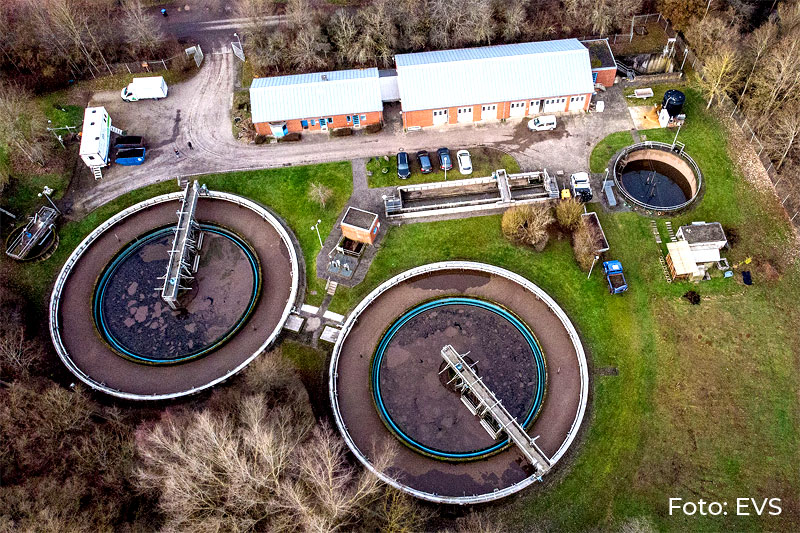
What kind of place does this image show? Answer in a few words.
industrial area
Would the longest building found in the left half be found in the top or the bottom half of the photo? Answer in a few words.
top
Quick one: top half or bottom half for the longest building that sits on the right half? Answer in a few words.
top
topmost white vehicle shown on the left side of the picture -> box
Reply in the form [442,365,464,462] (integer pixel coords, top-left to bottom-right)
[121,77,168,103]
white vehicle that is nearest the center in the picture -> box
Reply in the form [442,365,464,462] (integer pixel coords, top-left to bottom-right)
[457,150,473,174]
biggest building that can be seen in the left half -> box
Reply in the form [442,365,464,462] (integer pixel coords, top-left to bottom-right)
[249,68,383,141]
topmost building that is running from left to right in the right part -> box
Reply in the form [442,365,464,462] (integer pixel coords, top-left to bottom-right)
[396,38,595,129]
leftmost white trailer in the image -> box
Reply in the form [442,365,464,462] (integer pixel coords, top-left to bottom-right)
[80,106,125,182]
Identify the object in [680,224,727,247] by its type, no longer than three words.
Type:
shed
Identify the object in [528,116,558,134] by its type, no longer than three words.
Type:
vehicle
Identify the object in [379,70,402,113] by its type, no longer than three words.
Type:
building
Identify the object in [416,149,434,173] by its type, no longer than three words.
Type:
car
